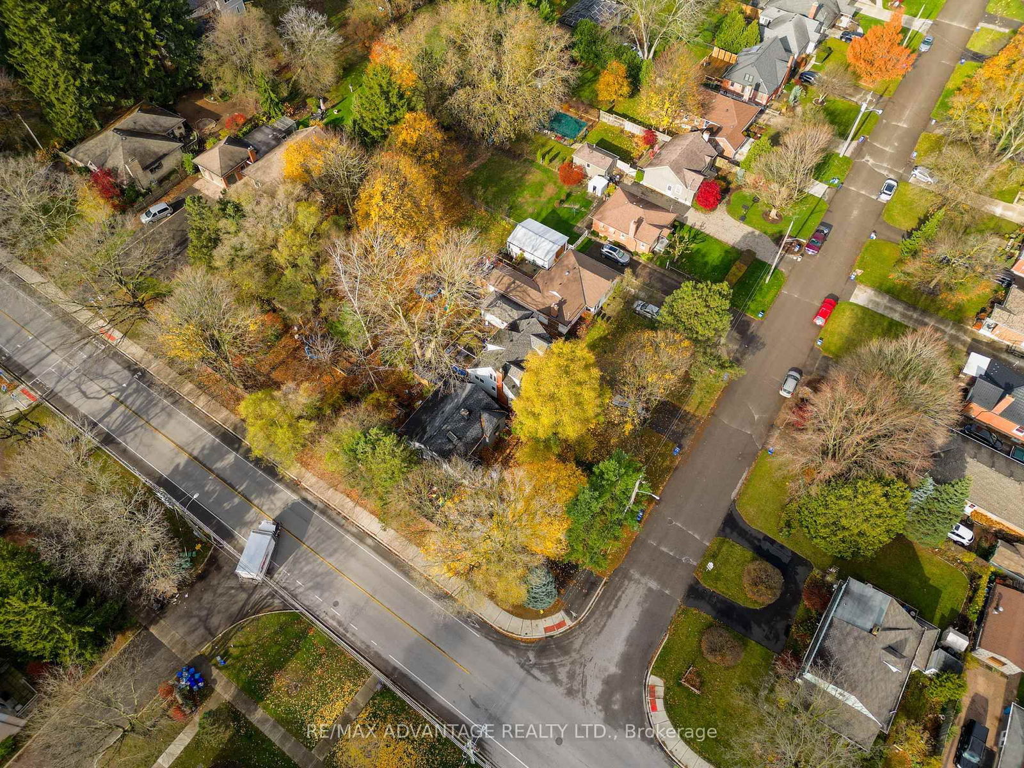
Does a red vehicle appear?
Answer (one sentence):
Yes, a red vehicle can be made out from above.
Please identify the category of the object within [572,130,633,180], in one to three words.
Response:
building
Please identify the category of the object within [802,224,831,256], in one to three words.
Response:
truck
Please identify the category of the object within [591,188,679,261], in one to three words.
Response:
house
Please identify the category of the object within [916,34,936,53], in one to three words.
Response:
car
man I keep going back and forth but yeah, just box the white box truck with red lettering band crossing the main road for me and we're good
[230,519,286,592]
